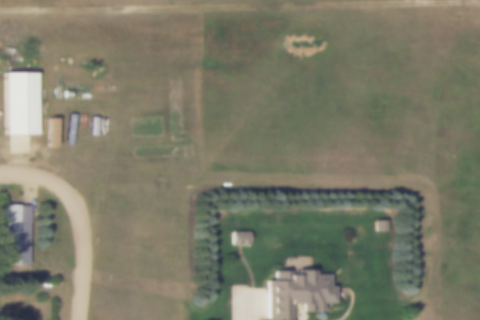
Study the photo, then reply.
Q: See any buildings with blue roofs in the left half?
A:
No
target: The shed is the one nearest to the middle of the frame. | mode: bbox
[234,230,256,246]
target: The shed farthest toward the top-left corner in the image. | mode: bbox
[6,72,42,134]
